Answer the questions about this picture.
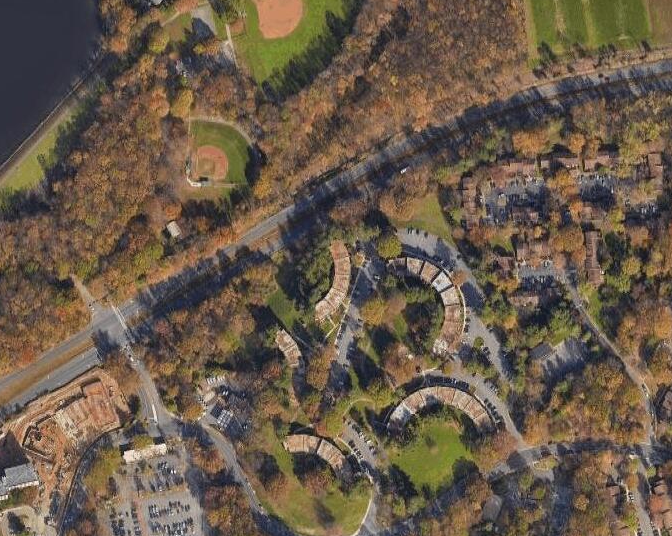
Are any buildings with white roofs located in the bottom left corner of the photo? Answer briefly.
Yes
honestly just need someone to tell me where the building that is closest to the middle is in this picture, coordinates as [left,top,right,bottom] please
[315,238,352,327]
